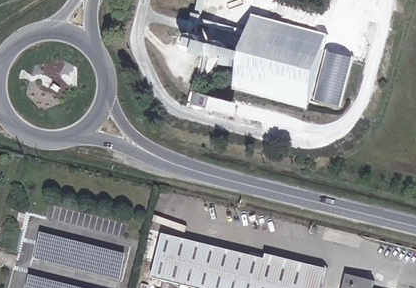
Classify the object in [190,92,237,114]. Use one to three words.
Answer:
building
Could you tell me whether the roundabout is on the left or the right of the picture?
left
